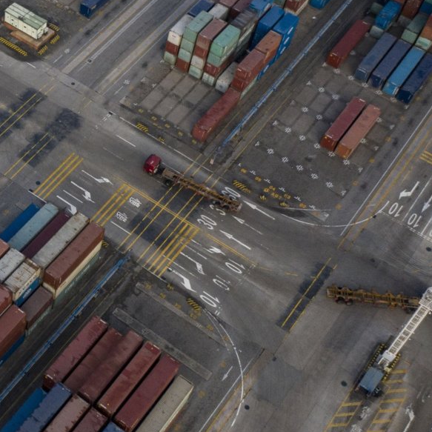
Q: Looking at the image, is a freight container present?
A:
Yes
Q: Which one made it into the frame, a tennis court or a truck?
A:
truck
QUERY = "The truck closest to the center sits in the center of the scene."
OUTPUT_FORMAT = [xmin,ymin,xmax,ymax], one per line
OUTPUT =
[139,154,233,210]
